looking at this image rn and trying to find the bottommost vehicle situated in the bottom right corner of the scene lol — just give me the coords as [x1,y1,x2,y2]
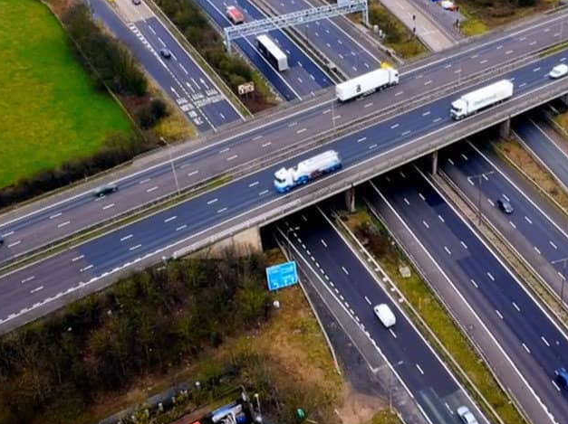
[458,406,480,424]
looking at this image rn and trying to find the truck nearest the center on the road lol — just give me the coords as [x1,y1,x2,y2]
[274,150,342,193]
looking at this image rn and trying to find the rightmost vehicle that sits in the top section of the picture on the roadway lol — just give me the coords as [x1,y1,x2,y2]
[550,62,567,75]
